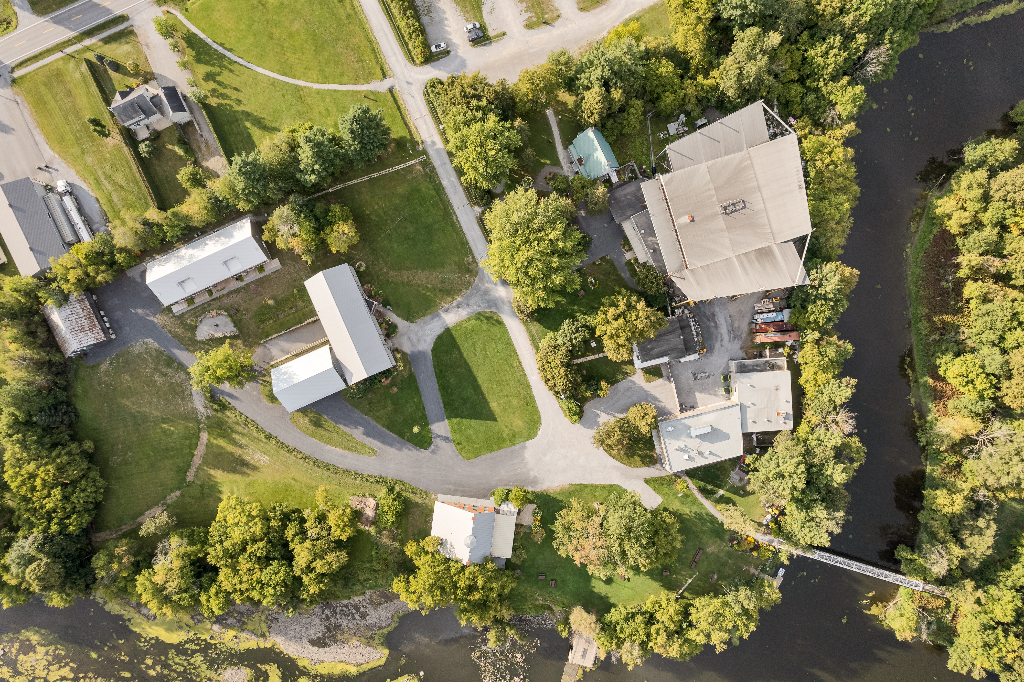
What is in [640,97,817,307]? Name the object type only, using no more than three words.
building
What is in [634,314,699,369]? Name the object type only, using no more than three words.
shed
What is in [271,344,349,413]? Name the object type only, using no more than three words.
barn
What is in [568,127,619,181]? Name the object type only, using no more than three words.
house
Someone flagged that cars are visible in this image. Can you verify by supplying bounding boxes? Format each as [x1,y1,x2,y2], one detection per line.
[431,42,447,52]
[463,22,480,33]
[466,31,484,42]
